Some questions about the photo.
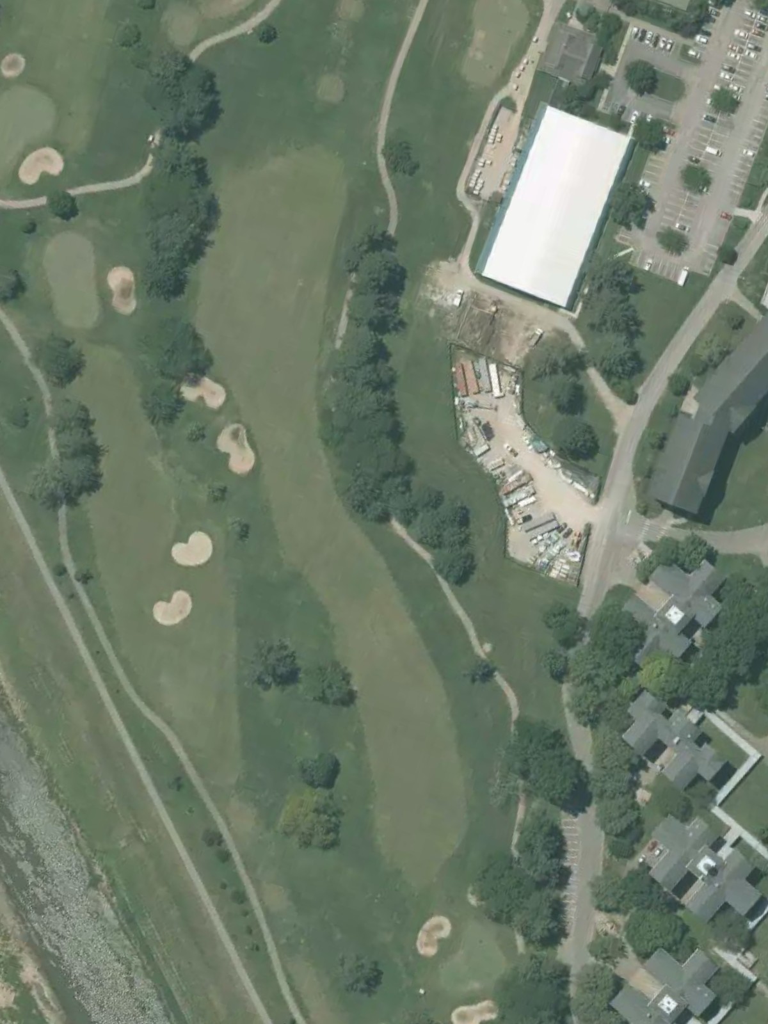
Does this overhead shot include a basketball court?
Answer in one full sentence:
No, there's no basketball court here.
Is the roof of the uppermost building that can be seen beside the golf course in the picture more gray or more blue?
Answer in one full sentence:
The color of the roof of the uppermost building that can be seen beside the golf course is gray.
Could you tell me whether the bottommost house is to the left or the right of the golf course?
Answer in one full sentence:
To the right of the golf course is where the bottommost house appears.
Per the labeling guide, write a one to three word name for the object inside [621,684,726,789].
house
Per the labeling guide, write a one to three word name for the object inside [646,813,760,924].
house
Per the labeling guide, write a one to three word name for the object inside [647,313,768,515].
building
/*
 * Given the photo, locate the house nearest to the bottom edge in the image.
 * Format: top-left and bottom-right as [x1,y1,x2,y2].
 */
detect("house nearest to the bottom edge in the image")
[609,945,719,1024]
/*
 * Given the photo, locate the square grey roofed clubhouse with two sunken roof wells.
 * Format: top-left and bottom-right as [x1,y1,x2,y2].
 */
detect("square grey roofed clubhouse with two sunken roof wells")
[536,23,606,82]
